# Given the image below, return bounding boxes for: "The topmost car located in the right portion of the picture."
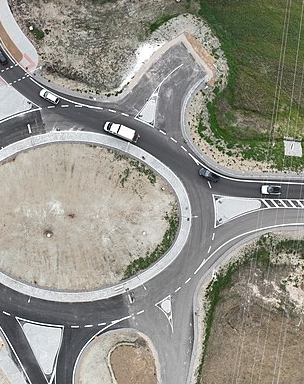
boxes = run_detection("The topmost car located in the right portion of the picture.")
[198,167,220,181]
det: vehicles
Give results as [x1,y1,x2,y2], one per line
[105,121,138,142]
[0,49,7,66]
[260,185,282,194]
[198,167,220,181]
[39,89,60,105]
